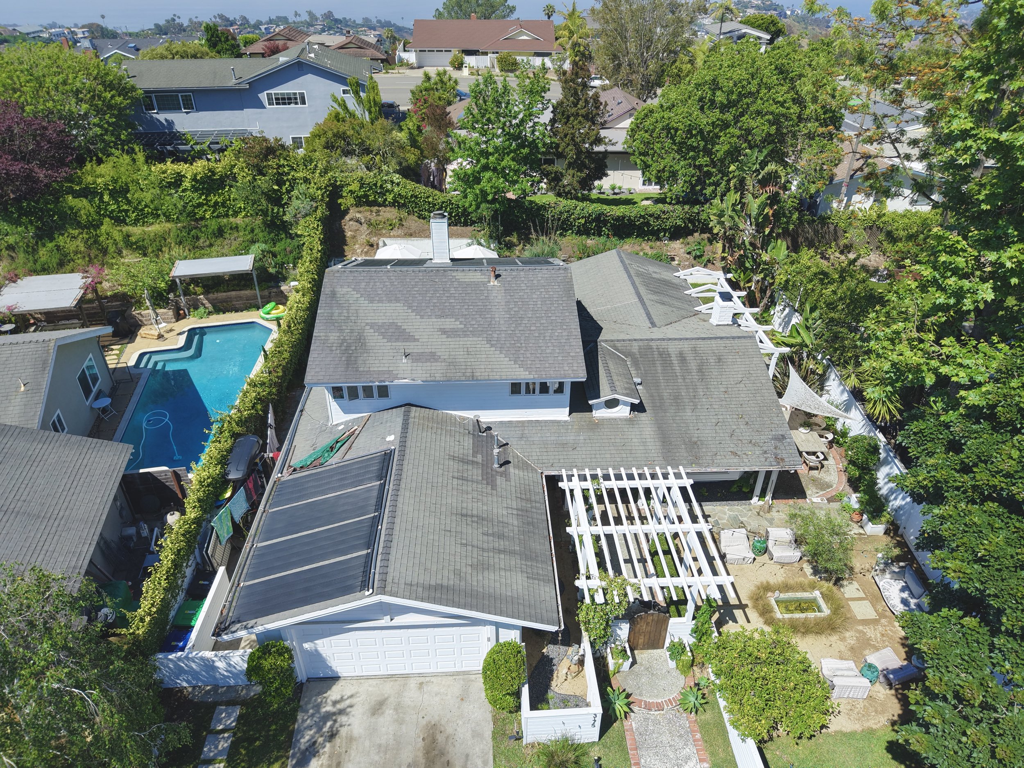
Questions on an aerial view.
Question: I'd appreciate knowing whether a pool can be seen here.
Yes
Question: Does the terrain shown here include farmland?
No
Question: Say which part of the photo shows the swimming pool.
left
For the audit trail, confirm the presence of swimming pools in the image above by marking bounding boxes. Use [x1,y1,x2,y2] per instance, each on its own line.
[109,316,282,468]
